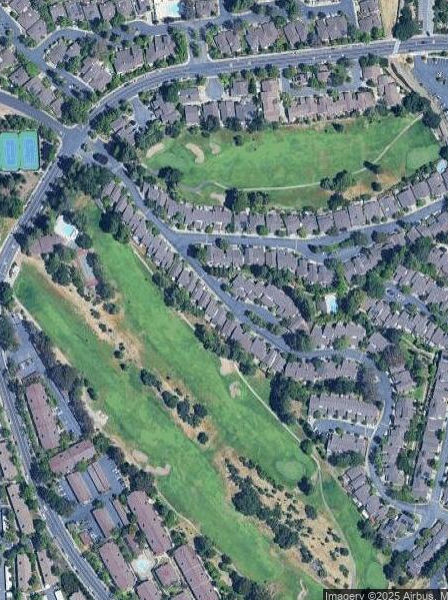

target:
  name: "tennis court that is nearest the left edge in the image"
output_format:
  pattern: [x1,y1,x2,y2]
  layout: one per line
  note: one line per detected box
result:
[0,132,19,172]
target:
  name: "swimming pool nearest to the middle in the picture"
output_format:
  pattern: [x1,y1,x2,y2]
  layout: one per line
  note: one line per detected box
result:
[325,294,340,315]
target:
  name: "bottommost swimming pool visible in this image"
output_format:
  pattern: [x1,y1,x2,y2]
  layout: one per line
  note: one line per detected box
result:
[130,551,156,579]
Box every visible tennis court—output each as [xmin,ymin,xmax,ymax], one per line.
[20,131,39,170]
[0,132,19,172]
